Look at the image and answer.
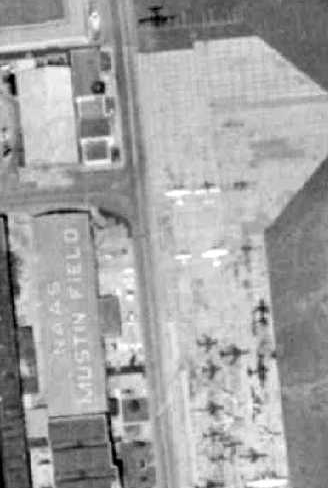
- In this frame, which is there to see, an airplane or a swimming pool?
airplane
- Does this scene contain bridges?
No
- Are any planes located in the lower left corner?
No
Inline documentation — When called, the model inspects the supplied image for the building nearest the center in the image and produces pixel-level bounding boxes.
[101,294,122,337]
